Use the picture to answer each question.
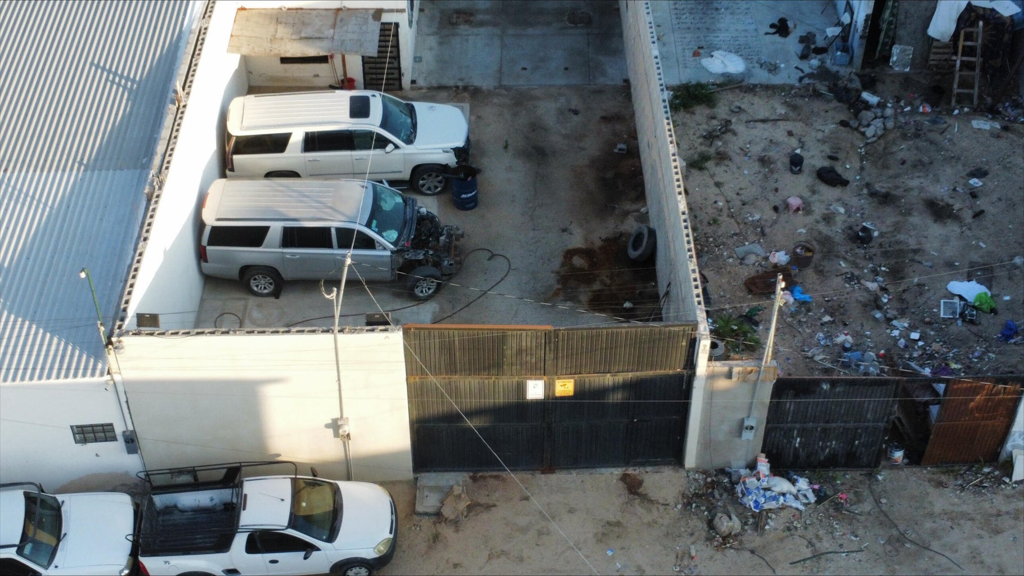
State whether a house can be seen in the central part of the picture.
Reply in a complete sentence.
No, I can find no house in the central part of the picture.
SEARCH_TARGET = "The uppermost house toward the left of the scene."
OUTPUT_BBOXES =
[228,0,419,95]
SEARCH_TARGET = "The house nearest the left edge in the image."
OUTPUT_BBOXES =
[0,0,208,482]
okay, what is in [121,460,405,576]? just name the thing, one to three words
truck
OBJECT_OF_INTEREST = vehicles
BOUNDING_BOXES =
[121,460,405,576]
[0,478,140,576]
[206,177,480,298]
[229,89,472,197]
